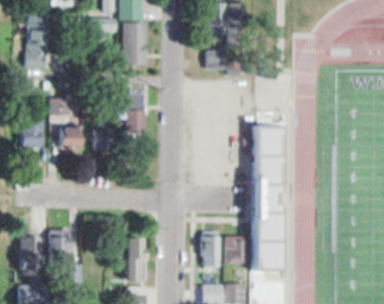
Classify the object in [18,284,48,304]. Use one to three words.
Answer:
house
